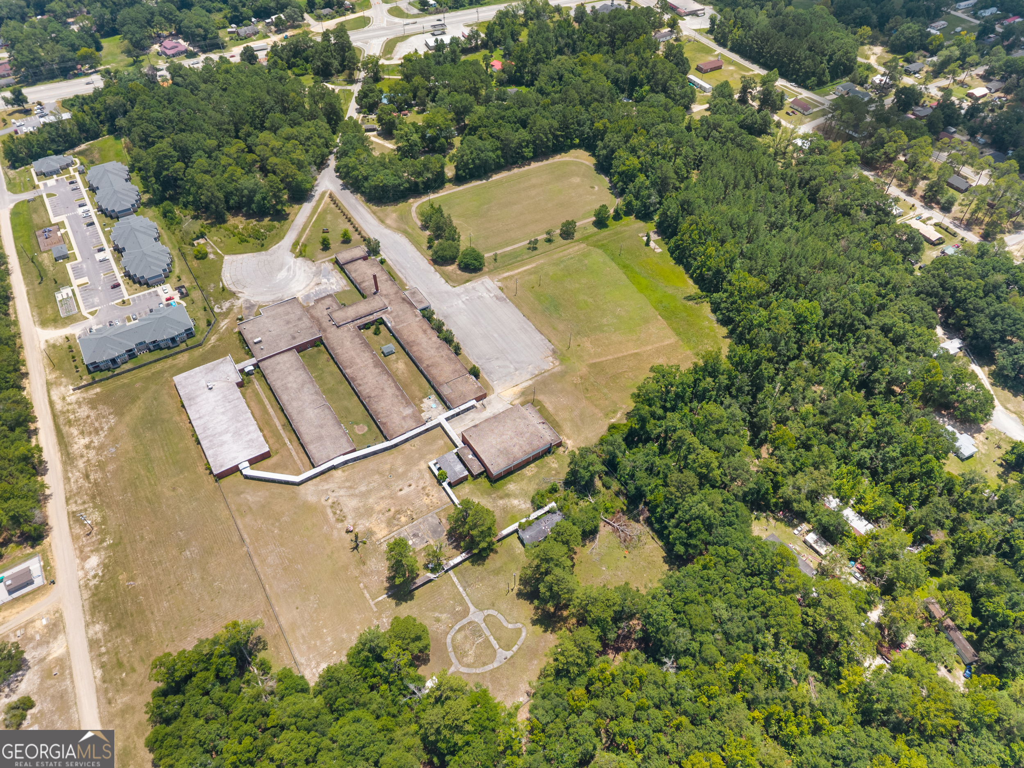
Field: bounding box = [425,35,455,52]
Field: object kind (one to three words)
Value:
building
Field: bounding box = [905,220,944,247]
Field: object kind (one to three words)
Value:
house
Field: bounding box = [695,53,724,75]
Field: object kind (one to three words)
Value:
building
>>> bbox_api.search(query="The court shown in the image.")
[397,514,446,549]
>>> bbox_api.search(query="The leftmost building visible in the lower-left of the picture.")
[2,564,37,586]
